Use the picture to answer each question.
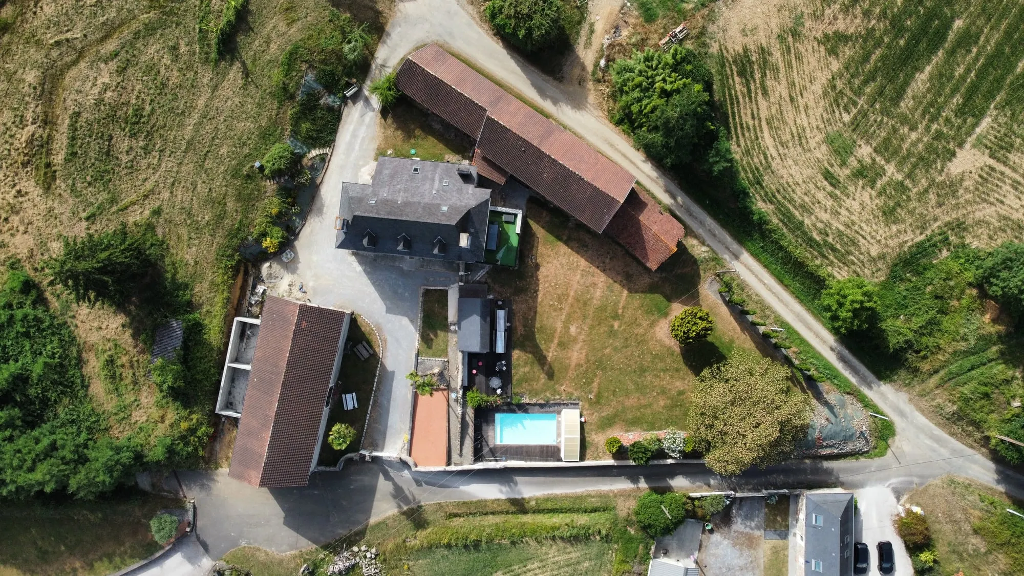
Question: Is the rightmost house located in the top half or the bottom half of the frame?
bottom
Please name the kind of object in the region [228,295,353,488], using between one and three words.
barn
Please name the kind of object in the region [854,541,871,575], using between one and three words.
car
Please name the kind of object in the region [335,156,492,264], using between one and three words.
house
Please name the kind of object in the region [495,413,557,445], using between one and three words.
swimming pool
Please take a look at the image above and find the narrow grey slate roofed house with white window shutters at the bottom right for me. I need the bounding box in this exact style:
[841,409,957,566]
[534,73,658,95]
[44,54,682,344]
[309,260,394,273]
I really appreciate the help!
[795,487,855,576]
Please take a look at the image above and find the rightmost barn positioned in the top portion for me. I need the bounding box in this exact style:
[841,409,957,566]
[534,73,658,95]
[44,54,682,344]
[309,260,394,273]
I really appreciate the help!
[601,183,685,270]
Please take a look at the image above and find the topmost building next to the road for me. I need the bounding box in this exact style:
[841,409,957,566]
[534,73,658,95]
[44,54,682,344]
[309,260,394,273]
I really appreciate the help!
[396,43,505,144]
